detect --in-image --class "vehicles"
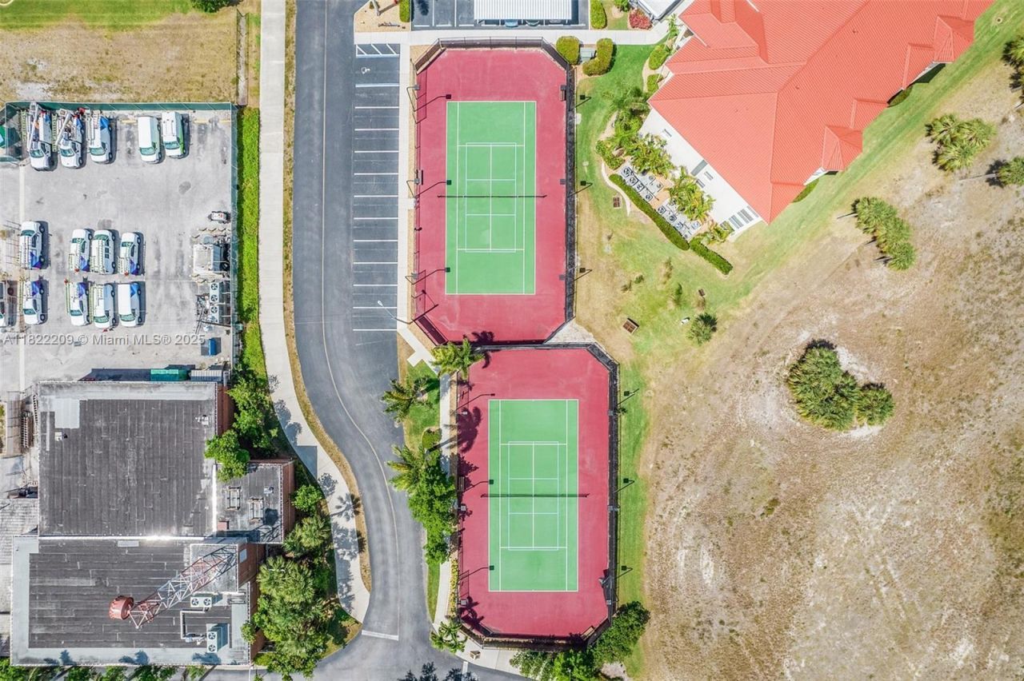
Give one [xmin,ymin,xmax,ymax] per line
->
[23,279,48,325]
[480,21,495,30]
[524,21,539,30]
[67,281,92,326]
[68,228,93,273]
[91,282,117,329]
[25,108,56,169]
[89,114,114,165]
[90,229,116,275]
[118,281,143,329]
[138,114,163,165]
[23,223,49,268]
[161,110,185,160]
[118,232,142,277]
[504,21,520,30]
[548,21,563,30]
[56,110,85,171]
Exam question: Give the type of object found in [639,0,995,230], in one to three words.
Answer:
building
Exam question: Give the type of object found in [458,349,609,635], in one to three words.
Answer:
tennis court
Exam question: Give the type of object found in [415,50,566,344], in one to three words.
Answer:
tennis court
